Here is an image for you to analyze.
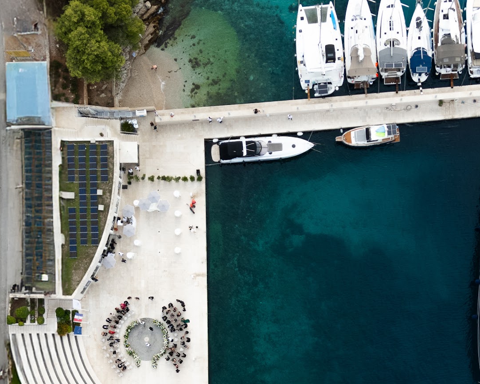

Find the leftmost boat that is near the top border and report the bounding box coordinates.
[294,0,345,100]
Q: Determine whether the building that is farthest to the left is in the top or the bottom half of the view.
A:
top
